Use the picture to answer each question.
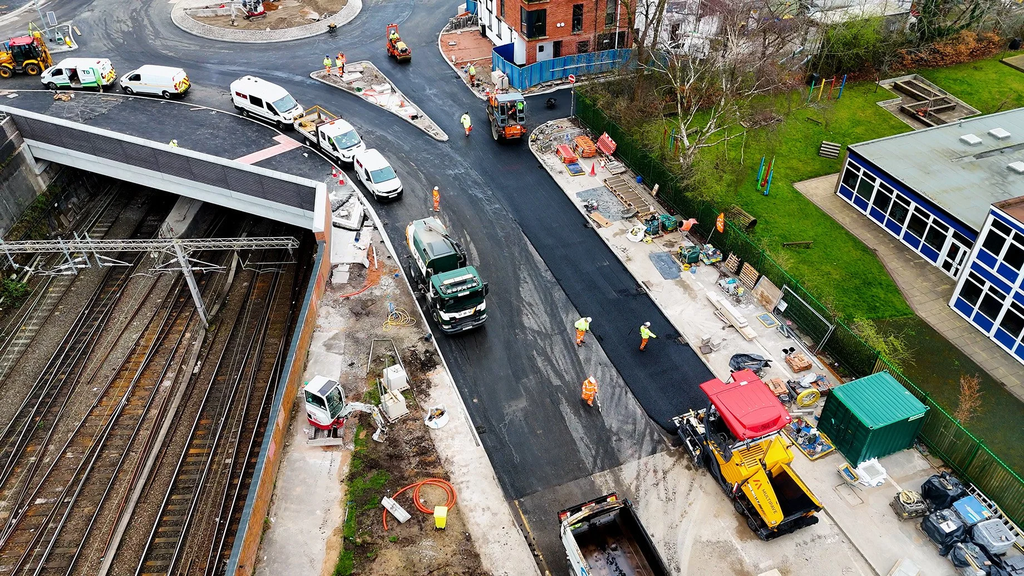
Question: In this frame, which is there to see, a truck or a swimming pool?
truck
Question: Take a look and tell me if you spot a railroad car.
No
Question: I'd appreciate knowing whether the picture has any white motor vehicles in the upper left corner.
Yes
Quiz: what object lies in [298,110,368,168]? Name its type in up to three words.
truck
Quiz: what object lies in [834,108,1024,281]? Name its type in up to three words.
building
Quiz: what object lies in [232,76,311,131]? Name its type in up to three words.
vehicle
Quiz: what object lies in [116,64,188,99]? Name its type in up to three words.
van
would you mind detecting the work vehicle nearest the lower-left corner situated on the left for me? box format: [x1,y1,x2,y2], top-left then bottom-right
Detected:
[302,384,388,450]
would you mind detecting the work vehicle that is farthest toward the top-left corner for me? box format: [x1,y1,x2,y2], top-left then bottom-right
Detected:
[0,30,63,78]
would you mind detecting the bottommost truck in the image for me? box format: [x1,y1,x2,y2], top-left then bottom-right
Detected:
[552,491,675,576]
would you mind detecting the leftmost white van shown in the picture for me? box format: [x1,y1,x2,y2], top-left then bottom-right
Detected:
[38,58,115,92]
